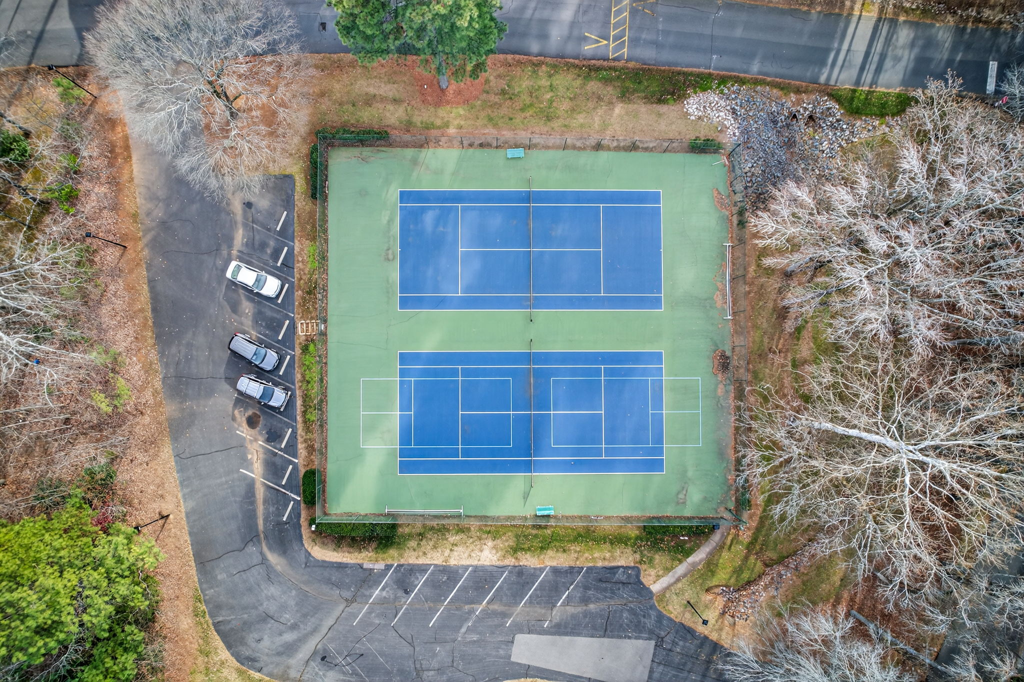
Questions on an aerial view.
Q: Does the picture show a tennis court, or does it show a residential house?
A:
tennis court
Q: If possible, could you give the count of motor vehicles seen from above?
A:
3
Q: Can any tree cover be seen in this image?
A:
Yes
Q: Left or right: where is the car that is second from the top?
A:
left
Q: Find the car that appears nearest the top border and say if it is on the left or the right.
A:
left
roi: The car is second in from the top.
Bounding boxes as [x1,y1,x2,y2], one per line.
[229,334,282,372]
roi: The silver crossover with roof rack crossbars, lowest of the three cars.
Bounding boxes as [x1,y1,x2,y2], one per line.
[236,374,289,407]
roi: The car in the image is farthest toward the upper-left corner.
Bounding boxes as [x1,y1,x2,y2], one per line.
[227,263,282,298]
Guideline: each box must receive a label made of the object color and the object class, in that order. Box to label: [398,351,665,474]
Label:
blue tennis court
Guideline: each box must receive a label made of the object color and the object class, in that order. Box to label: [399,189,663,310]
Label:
blue tennis court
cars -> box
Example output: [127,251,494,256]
[229,334,282,372]
[236,374,289,407]
[227,263,282,298]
